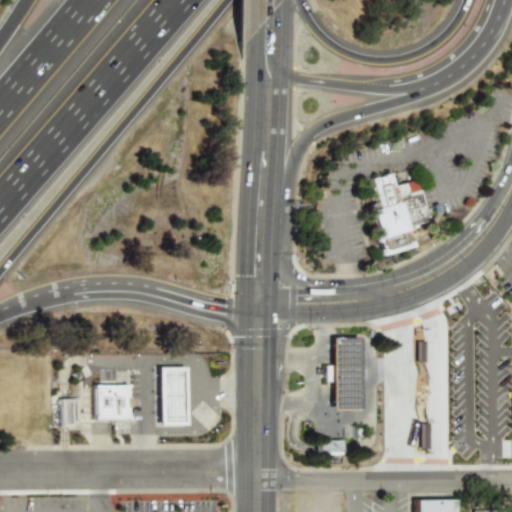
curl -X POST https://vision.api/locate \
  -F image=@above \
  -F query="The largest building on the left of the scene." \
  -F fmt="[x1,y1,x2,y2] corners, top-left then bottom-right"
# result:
[94,382,132,420]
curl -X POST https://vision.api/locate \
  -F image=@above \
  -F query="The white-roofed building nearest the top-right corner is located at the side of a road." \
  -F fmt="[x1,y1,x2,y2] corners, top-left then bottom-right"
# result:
[374,170,431,257]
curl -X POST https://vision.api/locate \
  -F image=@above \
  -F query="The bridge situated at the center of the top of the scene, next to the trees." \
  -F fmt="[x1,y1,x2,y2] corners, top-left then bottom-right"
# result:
[243,0,296,66]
